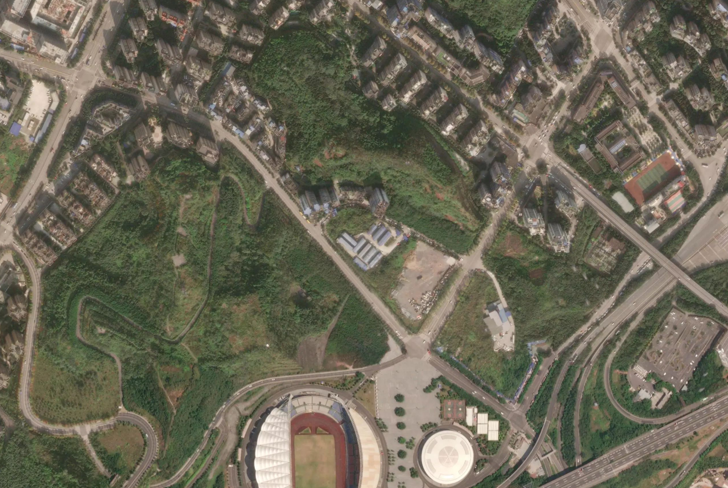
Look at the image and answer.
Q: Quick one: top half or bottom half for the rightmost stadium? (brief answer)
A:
bottom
